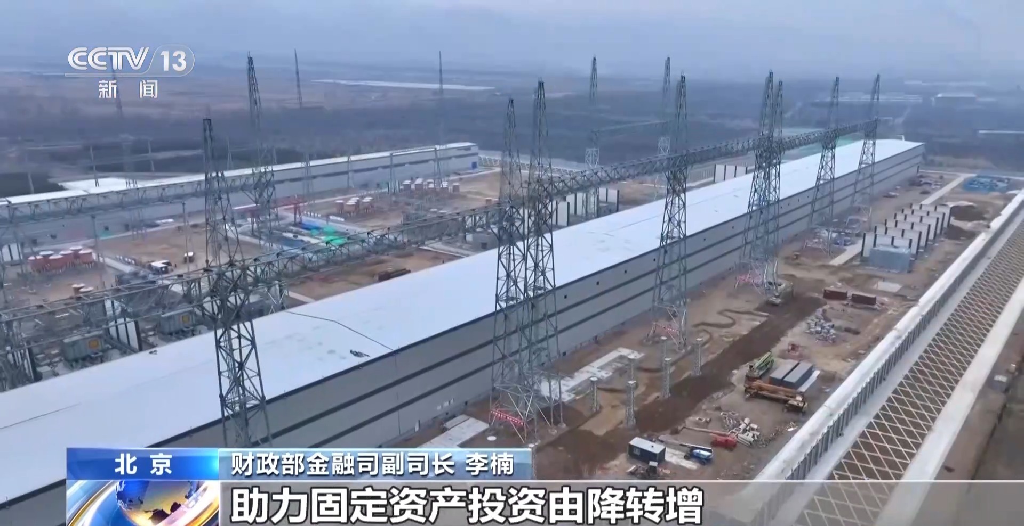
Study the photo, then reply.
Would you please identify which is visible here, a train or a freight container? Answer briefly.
freight container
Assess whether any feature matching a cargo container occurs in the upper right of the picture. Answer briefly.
No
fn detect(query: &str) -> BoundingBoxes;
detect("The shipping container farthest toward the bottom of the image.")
[629,437,665,466]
